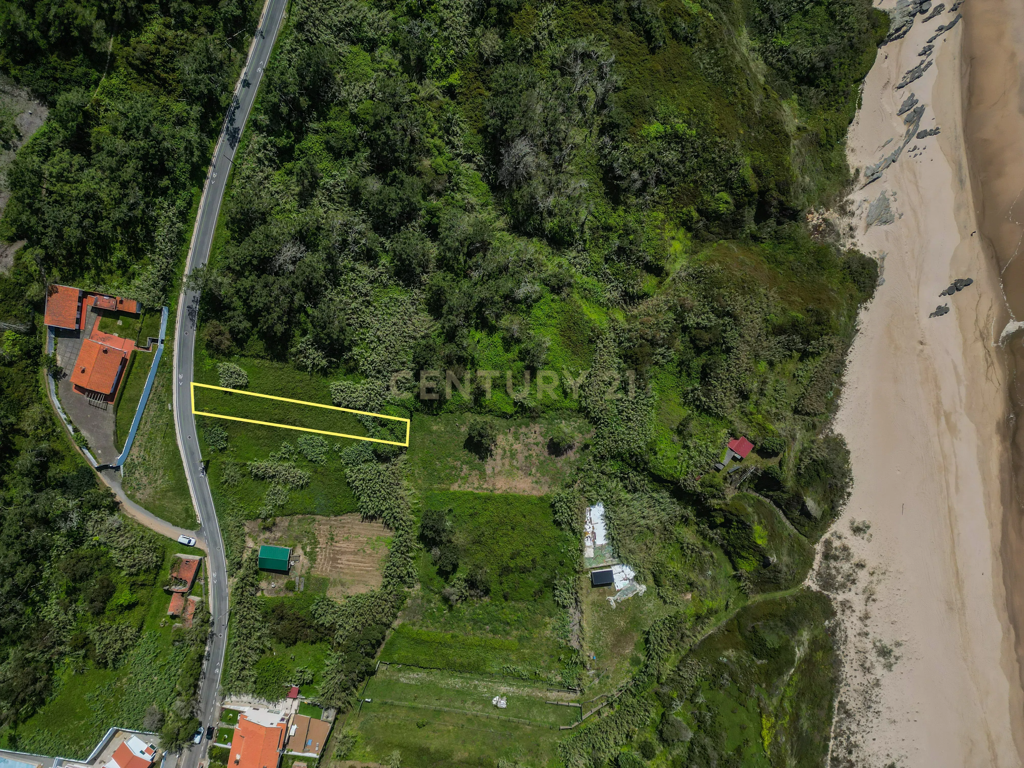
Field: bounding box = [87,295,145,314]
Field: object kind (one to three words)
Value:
building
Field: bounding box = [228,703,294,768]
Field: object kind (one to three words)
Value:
house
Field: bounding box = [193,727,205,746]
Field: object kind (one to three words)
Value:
vehicle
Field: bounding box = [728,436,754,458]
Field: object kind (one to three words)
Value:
shed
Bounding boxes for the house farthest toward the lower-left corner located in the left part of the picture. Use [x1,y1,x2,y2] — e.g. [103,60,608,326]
[103,733,161,768]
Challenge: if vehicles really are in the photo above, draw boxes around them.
[177,536,196,546]
[204,725,215,743]
[193,727,205,746]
